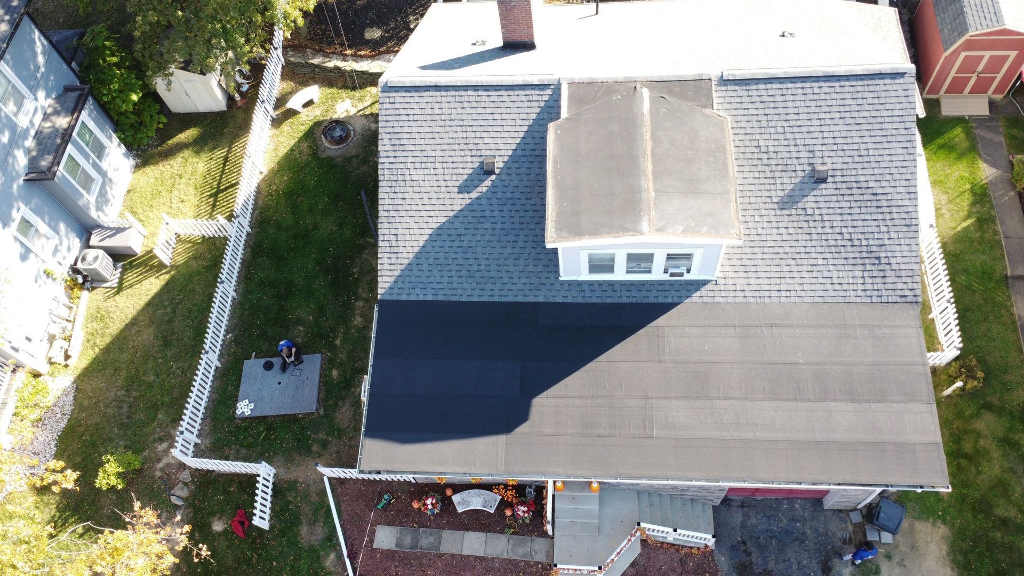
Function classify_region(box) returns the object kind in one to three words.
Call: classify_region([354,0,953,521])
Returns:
house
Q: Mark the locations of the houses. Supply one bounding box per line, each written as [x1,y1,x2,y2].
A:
[354,0,953,521]
[0,1,136,371]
